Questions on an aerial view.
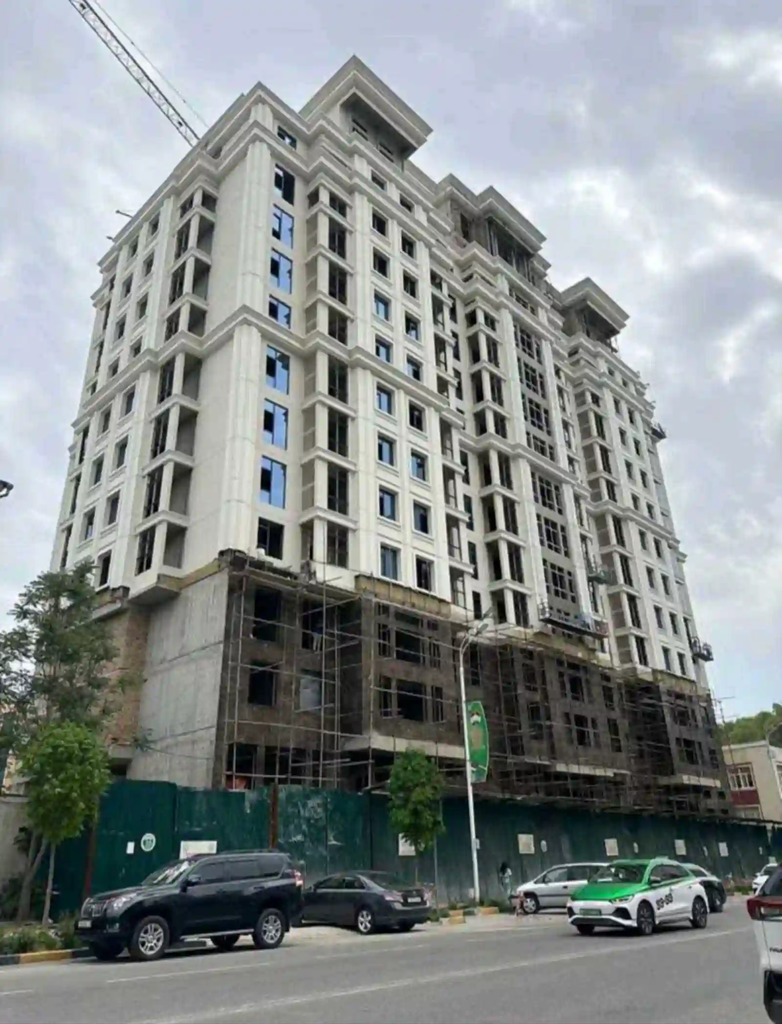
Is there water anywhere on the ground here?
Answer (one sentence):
No, there's no water in this view.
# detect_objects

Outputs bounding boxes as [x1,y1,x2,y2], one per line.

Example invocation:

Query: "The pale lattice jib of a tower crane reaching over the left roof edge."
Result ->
[64,0,223,147]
